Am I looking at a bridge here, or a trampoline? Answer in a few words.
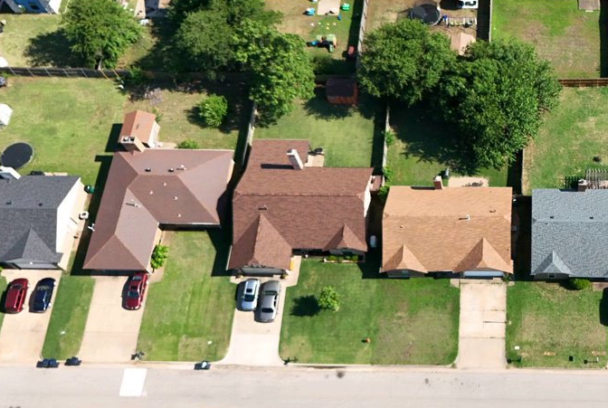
trampoline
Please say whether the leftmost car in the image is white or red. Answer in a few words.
red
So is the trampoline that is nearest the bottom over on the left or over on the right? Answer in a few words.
left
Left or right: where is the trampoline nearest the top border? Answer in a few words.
right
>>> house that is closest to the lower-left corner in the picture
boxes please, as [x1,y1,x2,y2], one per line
[0,165,87,272]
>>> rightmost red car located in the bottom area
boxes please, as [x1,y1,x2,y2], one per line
[124,274,149,311]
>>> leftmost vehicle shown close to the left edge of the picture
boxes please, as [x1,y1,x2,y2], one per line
[1,278,32,315]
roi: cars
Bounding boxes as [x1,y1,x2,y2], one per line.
[124,274,149,311]
[30,278,57,314]
[1,278,32,315]
[258,281,282,322]
[237,277,261,313]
